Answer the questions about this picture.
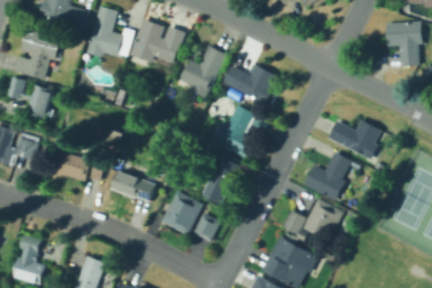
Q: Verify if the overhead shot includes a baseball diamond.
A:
No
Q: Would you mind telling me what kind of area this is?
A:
residential area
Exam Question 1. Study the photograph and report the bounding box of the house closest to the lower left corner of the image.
[12,236,46,286]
